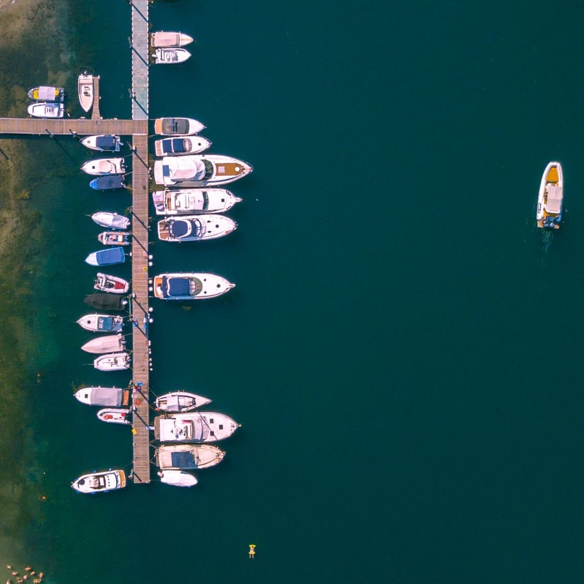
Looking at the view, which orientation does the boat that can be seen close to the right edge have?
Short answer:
up and down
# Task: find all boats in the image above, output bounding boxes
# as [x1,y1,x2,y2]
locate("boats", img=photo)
[89,173,130,191]
[72,384,132,405]
[27,86,65,101]
[152,48,192,64]
[151,444,227,469]
[69,465,130,494]
[85,213,132,231]
[99,230,131,245]
[150,135,214,155]
[27,102,67,118]
[79,157,127,176]
[149,153,254,189]
[152,117,207,136]
[151,271,239,301]
[77,135,123,152]
[150,30,193,47]
[80,333,131,354]
[85,247,126,266]
[91,274,130,292]
[78,71,93,115]
[97,408,129,423]
[152,469,199,486]
[149,188,243,215]
[84,293,127,309]
[150,390,212,412]
[76,313,129,332]
[153,409,243,442]
[150,215,240,243]
[84,351,132,370]
[536,162,564,228]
